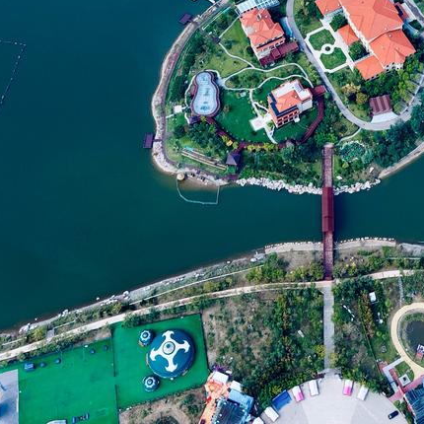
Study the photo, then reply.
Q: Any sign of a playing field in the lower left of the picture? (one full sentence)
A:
Yes, the scene does show a playing field in the lower left of the picture.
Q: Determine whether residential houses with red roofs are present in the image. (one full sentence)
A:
Yes, the frame does contain a residential house with a red roof.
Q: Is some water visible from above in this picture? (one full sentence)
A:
Yes, there is water in the image.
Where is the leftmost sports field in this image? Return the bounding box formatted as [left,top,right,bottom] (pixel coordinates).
[16,337,118,424]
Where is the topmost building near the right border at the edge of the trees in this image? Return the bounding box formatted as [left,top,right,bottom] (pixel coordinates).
[316,0,416,83]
